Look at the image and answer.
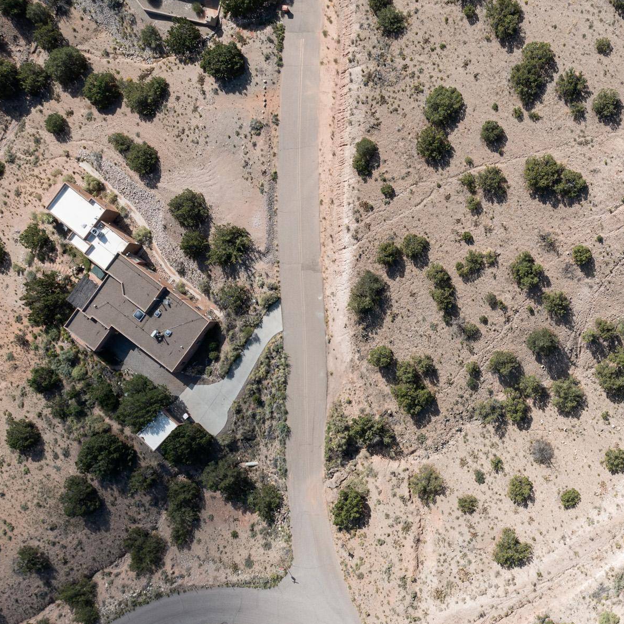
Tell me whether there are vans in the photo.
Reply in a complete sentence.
No, the scene contains no van.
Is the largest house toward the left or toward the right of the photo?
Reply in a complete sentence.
The largest house sits on the left side.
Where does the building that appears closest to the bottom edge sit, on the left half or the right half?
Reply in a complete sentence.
You can find the building that appears closest to the bottom edge on the left side of the picture.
